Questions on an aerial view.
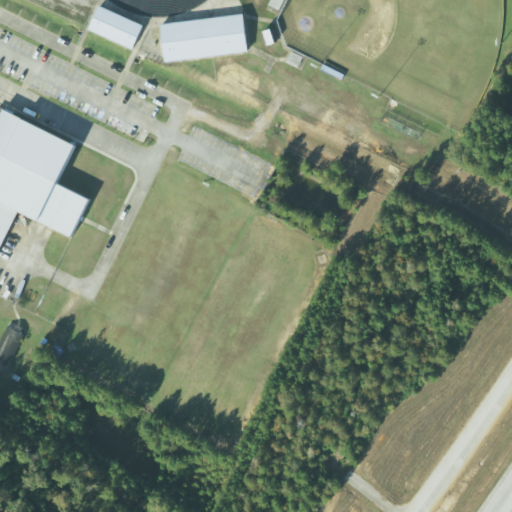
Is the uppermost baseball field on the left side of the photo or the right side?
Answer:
right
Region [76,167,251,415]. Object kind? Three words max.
sports field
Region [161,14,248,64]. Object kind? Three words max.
building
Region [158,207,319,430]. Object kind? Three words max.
sports field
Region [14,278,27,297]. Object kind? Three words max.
vehicle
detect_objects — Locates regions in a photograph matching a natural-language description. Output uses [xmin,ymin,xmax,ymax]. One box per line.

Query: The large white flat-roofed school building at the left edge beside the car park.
[0,108,91,250]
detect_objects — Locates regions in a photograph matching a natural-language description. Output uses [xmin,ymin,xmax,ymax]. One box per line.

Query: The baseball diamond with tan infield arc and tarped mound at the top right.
[279,0,505,127]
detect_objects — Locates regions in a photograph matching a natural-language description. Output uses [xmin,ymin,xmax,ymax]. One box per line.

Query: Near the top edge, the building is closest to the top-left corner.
[88,6,143,52]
